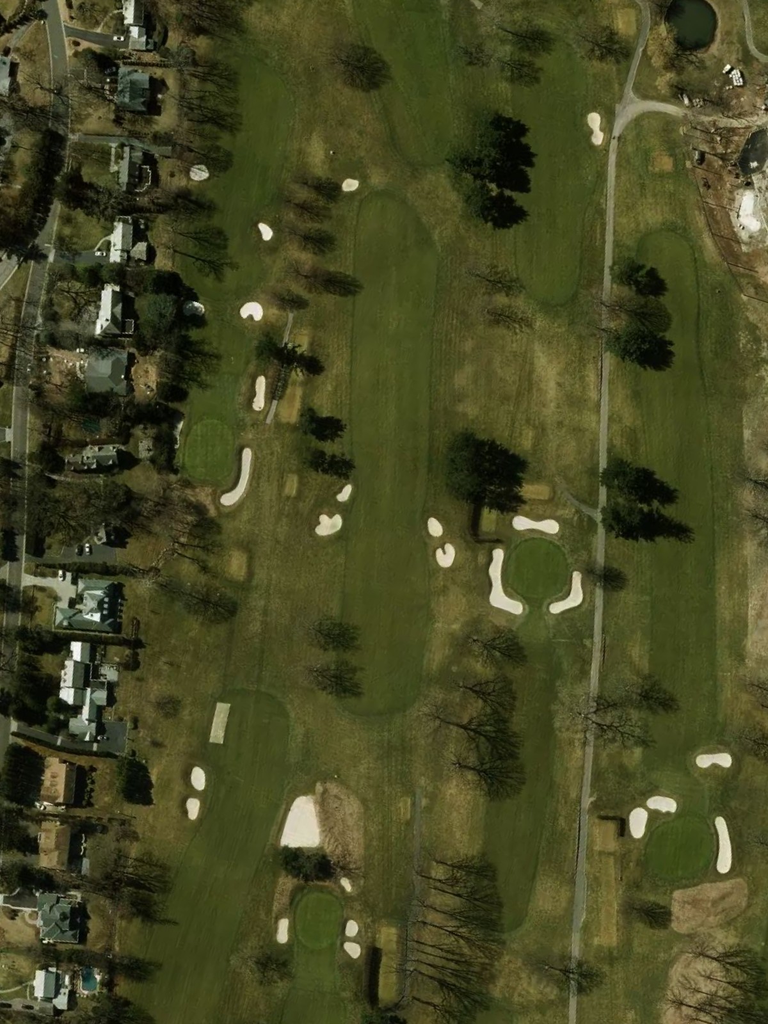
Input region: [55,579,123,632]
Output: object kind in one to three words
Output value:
house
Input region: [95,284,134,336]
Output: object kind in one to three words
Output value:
house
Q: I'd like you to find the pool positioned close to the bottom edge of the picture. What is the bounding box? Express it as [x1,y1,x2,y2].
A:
[78,964,101,995]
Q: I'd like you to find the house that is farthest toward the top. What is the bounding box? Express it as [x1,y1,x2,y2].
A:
[123,0,154,50]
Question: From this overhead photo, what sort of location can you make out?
golf course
